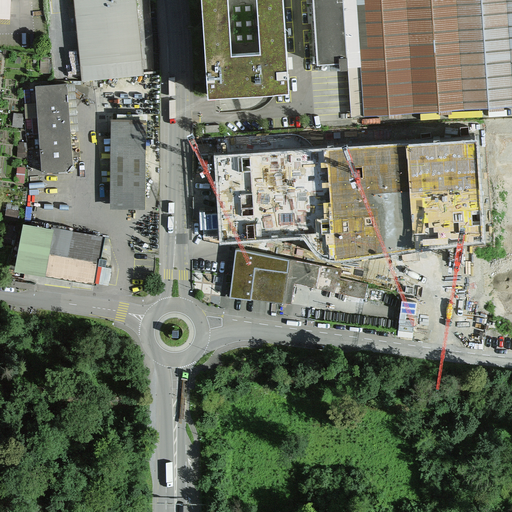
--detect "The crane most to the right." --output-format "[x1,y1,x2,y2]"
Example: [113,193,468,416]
[436,229,466,390]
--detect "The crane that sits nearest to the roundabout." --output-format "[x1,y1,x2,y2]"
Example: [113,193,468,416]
[186,135,252,264]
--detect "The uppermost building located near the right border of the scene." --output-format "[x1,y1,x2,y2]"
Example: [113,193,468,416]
[356,0,512,118]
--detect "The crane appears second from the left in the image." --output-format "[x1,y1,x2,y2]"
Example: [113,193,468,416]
[344,146,416,324]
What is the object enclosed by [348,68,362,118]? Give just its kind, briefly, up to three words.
building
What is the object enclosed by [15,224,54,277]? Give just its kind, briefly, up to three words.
shed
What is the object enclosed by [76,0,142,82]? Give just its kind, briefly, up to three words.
building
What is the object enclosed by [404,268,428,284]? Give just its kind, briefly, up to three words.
vehicle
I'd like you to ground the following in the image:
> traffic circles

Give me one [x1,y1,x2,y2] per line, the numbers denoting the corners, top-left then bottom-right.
[138,296,212,368]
